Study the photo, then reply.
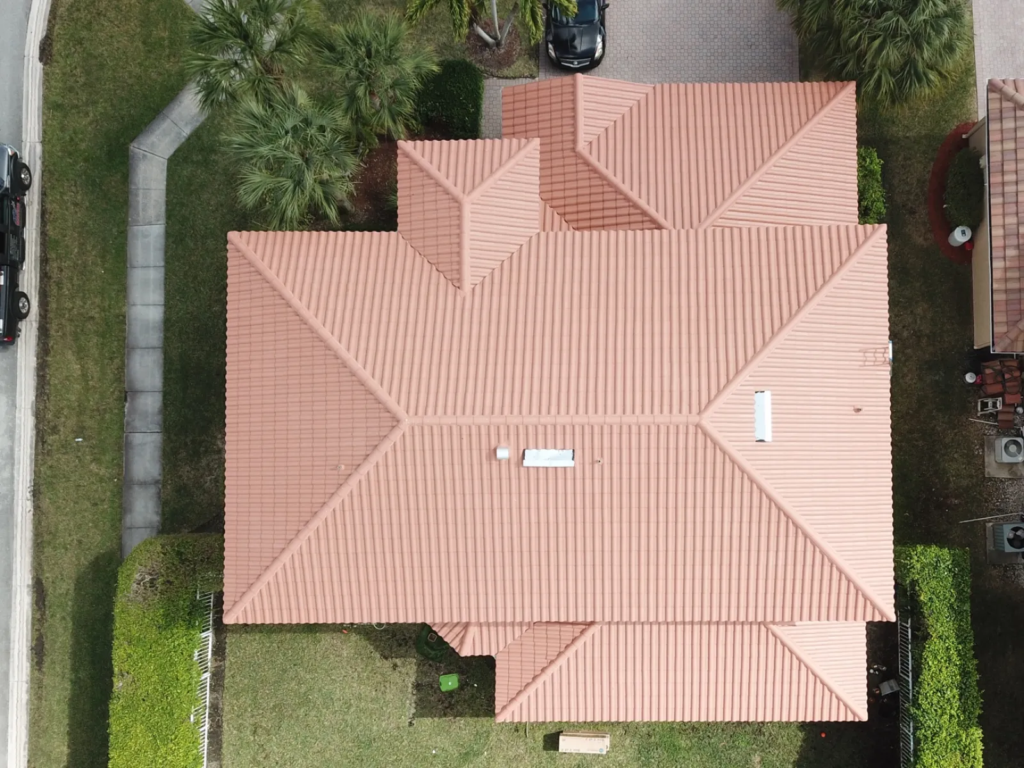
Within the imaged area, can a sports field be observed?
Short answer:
No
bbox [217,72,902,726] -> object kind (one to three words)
house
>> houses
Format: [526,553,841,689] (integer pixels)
[217,72,902,726]
[967,75,1024,358]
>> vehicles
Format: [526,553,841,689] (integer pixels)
[546,0,611,68]
[0,141,32,352]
